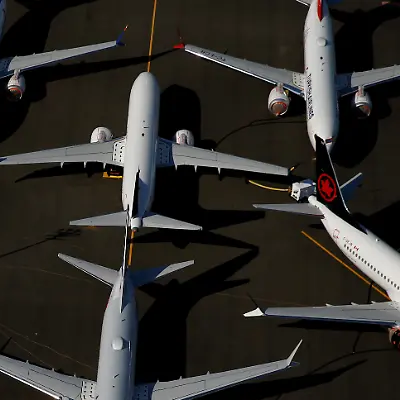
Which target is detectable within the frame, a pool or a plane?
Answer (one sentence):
The image shows a plane.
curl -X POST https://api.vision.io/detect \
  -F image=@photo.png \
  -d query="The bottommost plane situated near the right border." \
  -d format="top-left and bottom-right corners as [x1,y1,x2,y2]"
[244,136,400,352]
